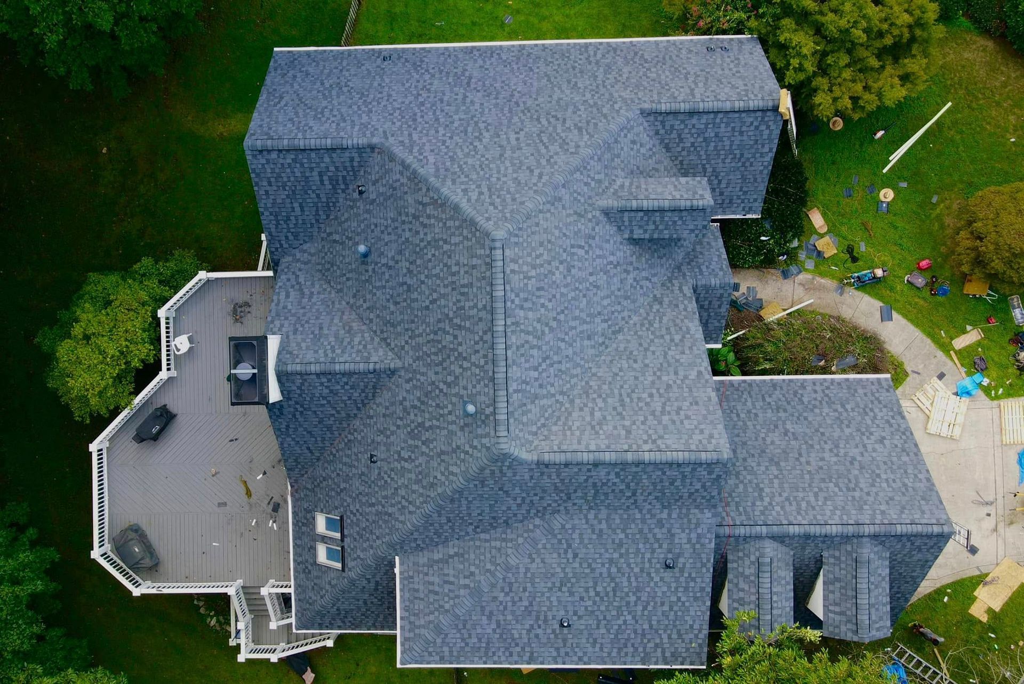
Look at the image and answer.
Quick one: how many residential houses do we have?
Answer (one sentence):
In total, 1 residential house can be seen.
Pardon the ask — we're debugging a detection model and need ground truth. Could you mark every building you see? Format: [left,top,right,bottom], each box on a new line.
[229,33,954,670]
